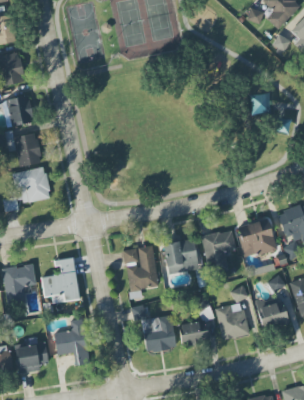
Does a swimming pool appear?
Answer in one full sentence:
Yes, a swimming pool can be made out from above.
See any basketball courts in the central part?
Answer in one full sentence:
No, there is no basketball court in the central part.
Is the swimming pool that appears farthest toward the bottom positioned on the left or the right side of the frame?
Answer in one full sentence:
The swimming pool that appears farthest toward the bottom is on the left side of the image.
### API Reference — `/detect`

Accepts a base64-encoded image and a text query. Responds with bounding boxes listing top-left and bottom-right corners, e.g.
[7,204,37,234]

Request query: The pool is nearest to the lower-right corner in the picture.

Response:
[255,282,275,302]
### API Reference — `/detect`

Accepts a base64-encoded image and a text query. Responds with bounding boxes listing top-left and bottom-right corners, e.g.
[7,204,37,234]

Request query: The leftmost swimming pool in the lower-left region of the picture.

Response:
[24,291,41,317]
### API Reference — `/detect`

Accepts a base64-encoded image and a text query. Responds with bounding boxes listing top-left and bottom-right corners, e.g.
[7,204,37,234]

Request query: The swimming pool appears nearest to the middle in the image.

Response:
[169,274,191,288]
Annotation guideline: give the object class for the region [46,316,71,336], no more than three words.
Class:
swimming pool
